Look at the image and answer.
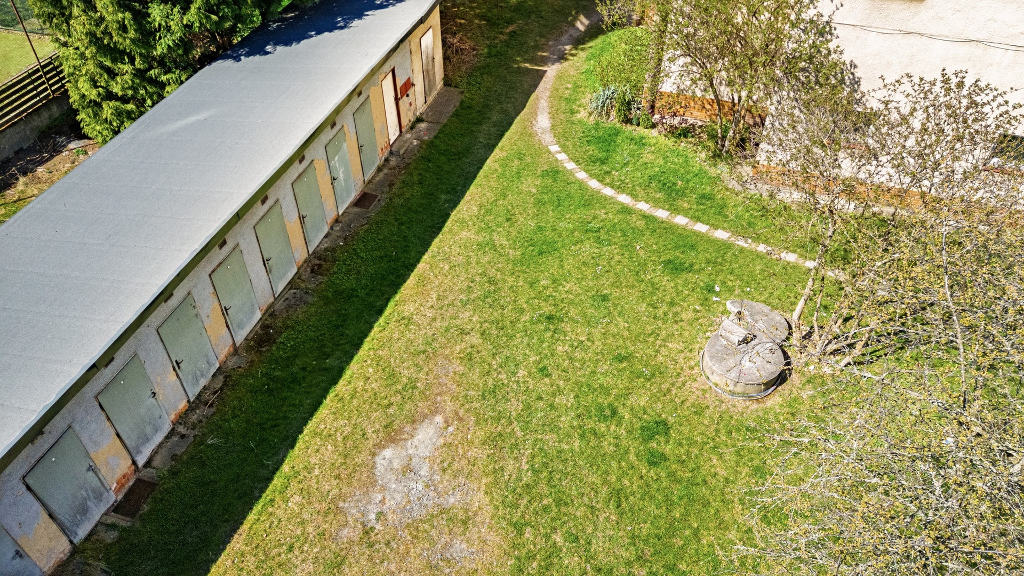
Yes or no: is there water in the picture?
No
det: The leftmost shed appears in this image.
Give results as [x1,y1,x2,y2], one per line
[0,0,445,576]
